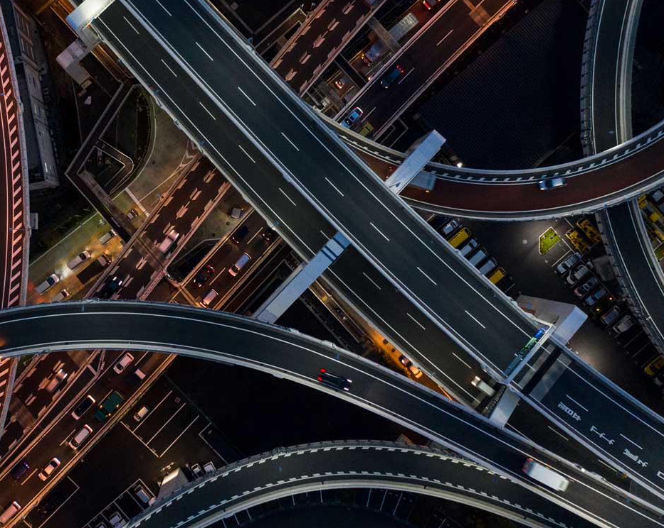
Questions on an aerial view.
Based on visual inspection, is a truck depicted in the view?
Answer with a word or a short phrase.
Yes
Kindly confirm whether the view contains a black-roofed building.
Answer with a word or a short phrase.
Yes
